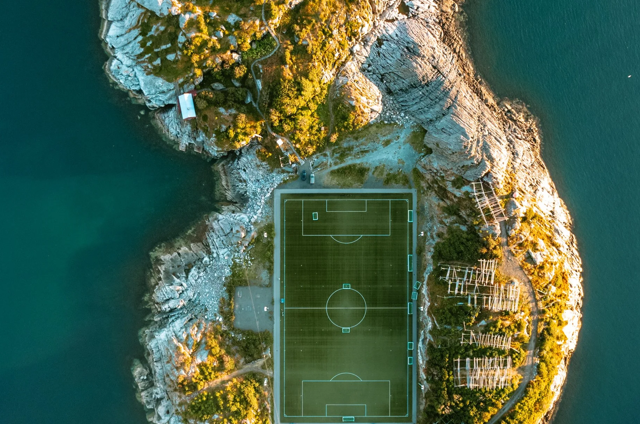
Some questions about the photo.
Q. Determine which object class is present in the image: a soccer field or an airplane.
soccer field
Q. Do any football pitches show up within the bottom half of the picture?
Yes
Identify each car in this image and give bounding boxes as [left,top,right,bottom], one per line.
[301,170,307,180]
[310,173,315,184]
